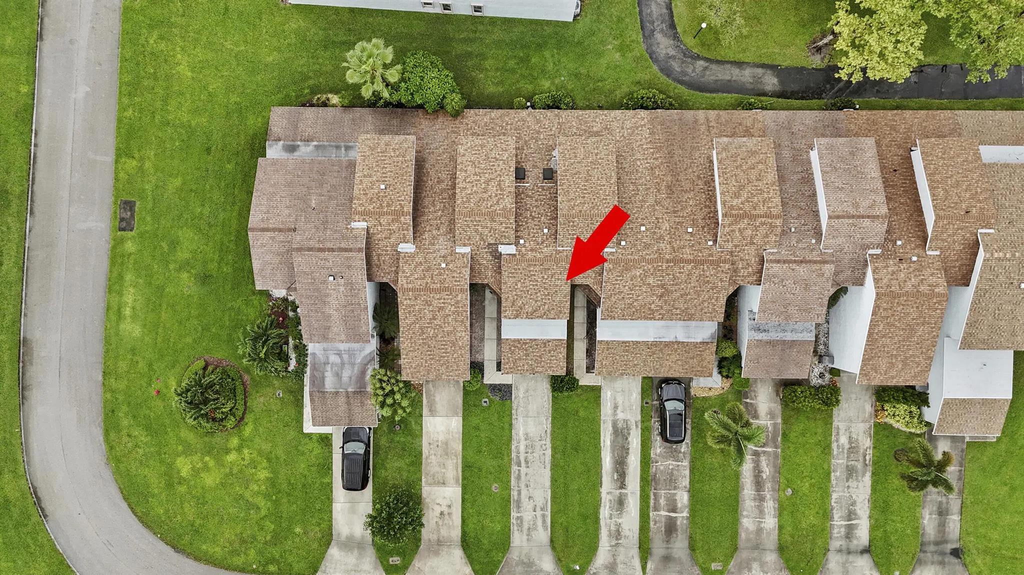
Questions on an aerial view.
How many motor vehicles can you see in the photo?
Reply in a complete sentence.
Altogether the scene contains 2 motor vehicles.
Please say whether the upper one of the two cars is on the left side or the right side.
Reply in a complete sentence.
The upper one of the two cars appears in the right half of the scene.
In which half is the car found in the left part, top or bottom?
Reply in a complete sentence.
Seen from above, the car found in the left part lies in the bottom half of the view.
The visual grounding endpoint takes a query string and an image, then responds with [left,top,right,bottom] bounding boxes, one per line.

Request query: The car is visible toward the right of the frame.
[657,380,689,444]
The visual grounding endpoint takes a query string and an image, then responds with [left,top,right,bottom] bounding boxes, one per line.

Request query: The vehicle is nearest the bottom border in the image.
[337,427,370,491]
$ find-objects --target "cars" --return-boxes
[657,380,689,444]
[337,427,370,491]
